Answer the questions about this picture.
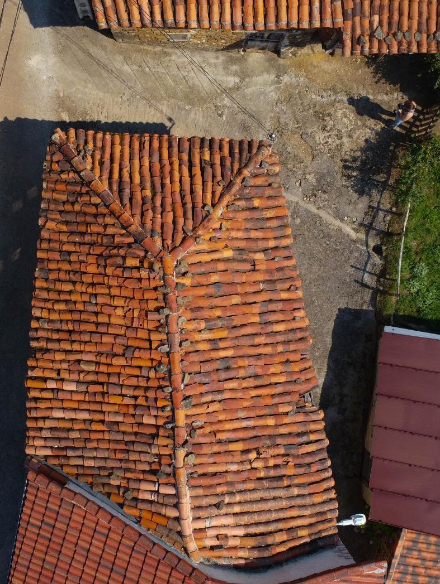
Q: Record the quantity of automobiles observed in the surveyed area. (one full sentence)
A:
The count of automobiles is 0.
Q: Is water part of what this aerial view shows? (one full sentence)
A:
No, the scene doesn't show any water.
